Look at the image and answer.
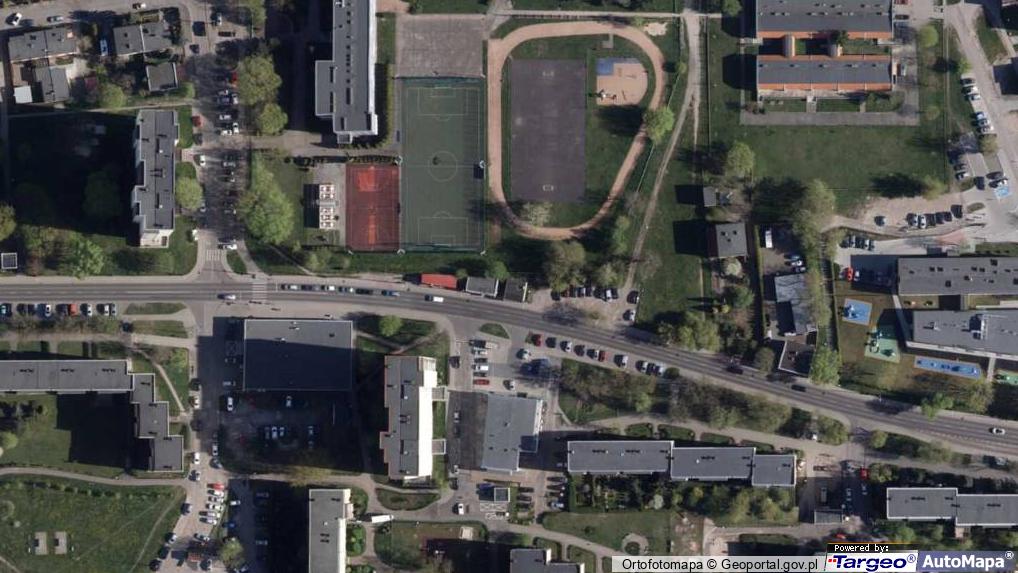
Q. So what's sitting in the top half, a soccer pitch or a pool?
soccer pitch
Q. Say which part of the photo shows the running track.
top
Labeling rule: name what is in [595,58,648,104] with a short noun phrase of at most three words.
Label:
playground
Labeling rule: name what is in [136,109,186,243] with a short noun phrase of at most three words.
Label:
building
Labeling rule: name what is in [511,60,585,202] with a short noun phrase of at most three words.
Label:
sports court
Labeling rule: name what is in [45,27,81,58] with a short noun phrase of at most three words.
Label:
house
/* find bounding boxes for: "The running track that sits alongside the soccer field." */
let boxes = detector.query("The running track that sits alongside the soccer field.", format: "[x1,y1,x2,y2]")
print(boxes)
[487,21,665,241]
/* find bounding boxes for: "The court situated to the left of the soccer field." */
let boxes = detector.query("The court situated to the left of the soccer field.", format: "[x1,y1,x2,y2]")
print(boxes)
[347,164,399,250]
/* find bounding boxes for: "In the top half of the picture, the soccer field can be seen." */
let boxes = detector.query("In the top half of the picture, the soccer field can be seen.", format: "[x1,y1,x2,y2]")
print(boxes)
[401,79,486,251]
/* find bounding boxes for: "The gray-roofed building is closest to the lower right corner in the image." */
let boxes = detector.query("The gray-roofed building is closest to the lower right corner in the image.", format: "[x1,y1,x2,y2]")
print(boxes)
[956,495,1018,528]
